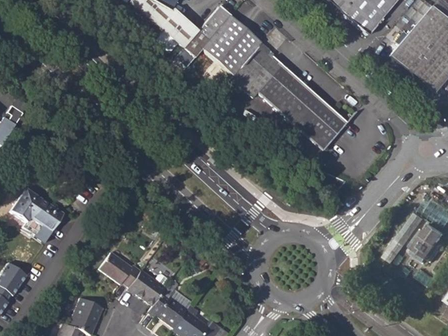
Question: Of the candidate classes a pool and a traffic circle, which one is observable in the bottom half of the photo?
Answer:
traffic circle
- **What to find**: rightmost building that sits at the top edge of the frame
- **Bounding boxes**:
[387,6,448,92]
